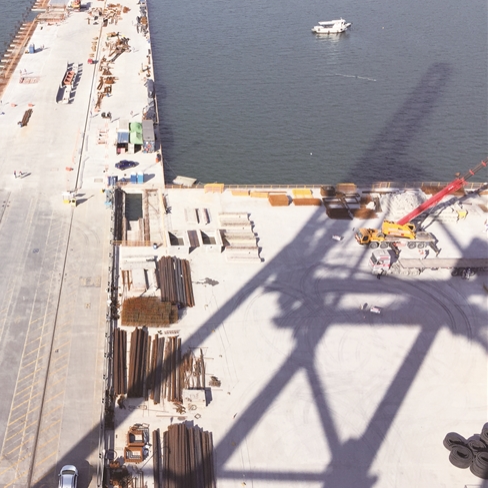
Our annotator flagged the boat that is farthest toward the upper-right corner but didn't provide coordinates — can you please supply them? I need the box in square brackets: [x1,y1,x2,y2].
[313,17,354,34]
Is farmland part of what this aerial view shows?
No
